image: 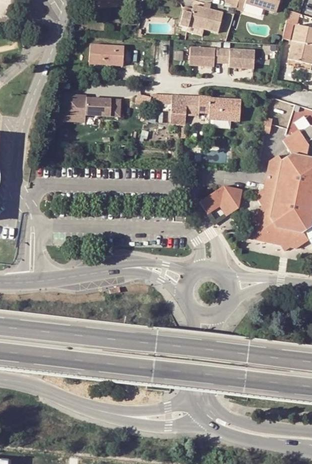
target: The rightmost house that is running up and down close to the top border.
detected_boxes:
[283,10,312,69]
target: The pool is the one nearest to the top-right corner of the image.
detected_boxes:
[246,21,272,37]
